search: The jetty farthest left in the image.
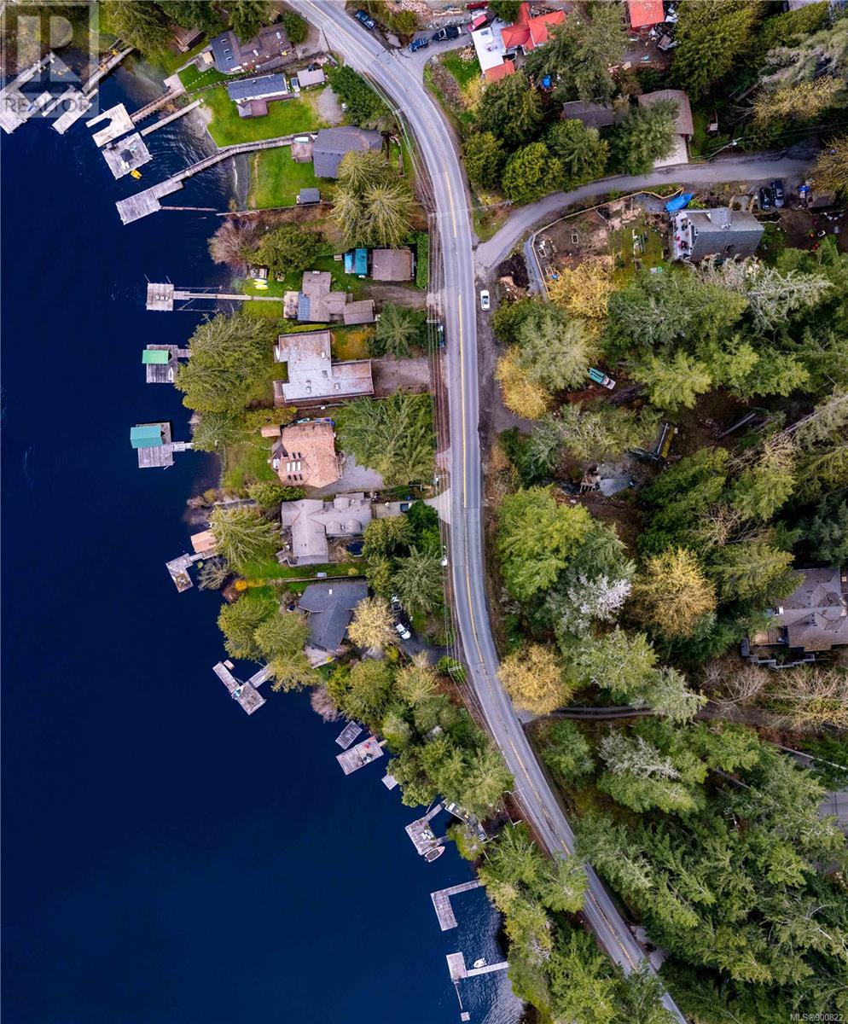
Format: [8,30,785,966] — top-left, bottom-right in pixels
[0,48,56,135]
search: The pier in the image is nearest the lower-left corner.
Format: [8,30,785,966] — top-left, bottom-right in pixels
[212,661,271,716]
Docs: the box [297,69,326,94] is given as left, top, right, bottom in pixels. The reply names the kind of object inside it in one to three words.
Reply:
shed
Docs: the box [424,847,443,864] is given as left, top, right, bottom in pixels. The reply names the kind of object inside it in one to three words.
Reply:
boat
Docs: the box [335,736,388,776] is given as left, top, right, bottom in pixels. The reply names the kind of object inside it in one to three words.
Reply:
pier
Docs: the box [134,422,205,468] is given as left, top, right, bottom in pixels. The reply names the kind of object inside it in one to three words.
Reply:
pier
